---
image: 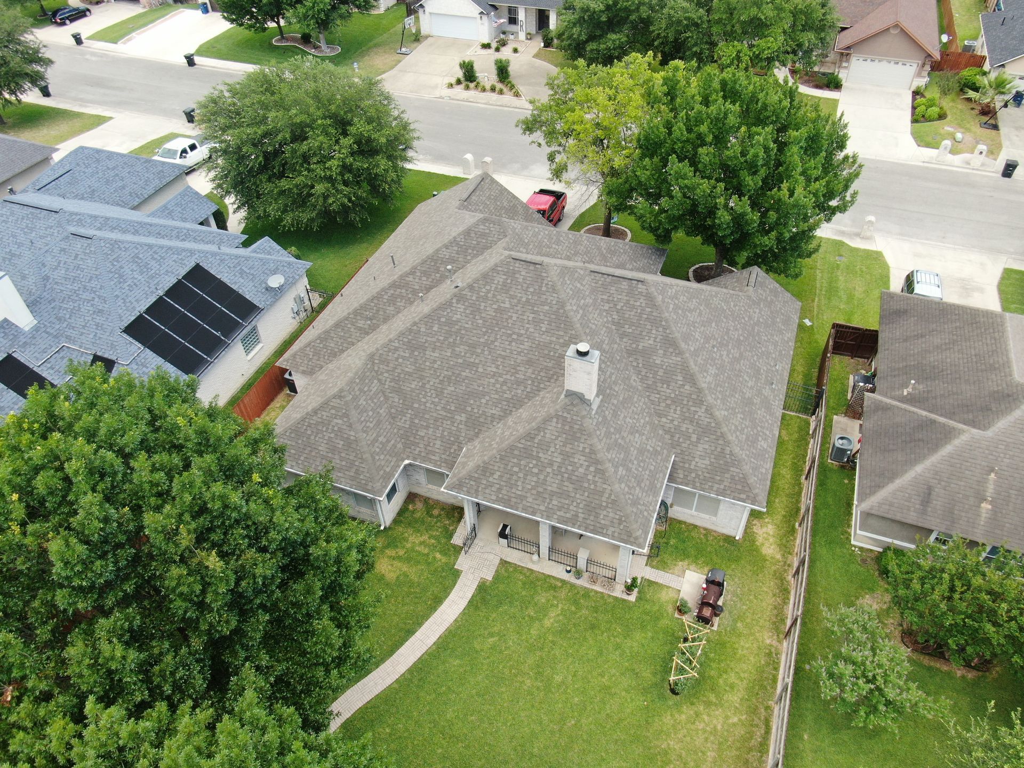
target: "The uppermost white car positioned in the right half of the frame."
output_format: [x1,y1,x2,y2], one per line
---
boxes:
[897,266,944,302]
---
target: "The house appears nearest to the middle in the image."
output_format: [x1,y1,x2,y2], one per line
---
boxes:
[244,168,801,594]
